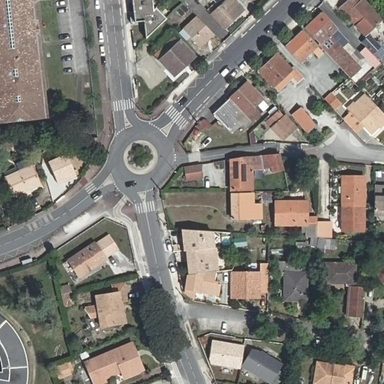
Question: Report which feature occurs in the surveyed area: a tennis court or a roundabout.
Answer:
roundabout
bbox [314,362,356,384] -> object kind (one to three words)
house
